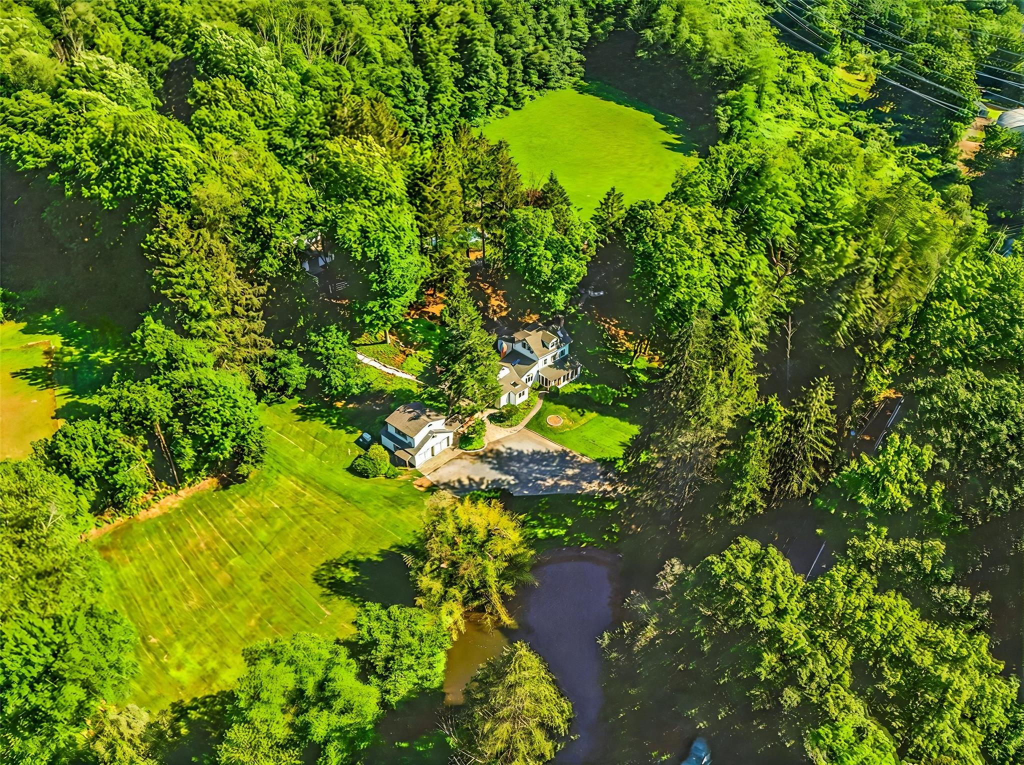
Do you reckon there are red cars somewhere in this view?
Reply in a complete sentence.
No, I find no red car anywhere in the image.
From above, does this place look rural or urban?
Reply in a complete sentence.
The area is rural.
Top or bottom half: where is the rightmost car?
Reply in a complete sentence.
The bottom half of the photo is where the rightmost car is.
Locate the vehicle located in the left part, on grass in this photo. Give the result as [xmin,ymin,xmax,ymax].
[355,433,378,449]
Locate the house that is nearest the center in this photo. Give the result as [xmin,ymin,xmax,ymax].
[485,314,583,408]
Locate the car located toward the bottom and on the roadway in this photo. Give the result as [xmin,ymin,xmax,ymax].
[689,739,713,765]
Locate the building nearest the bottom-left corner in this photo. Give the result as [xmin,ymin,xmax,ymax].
[379,397,467,471]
